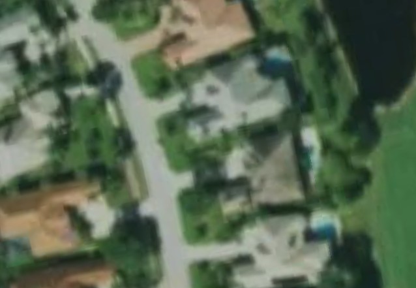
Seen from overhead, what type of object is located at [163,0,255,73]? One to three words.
house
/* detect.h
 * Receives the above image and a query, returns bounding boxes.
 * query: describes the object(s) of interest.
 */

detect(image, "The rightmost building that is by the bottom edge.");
[233,215,332,288]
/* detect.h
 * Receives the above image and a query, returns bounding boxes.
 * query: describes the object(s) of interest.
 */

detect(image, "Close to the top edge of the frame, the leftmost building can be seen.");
[0,10,39,64]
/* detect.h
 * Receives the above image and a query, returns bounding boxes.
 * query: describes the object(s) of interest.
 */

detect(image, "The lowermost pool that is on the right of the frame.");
[309,209,344,241]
